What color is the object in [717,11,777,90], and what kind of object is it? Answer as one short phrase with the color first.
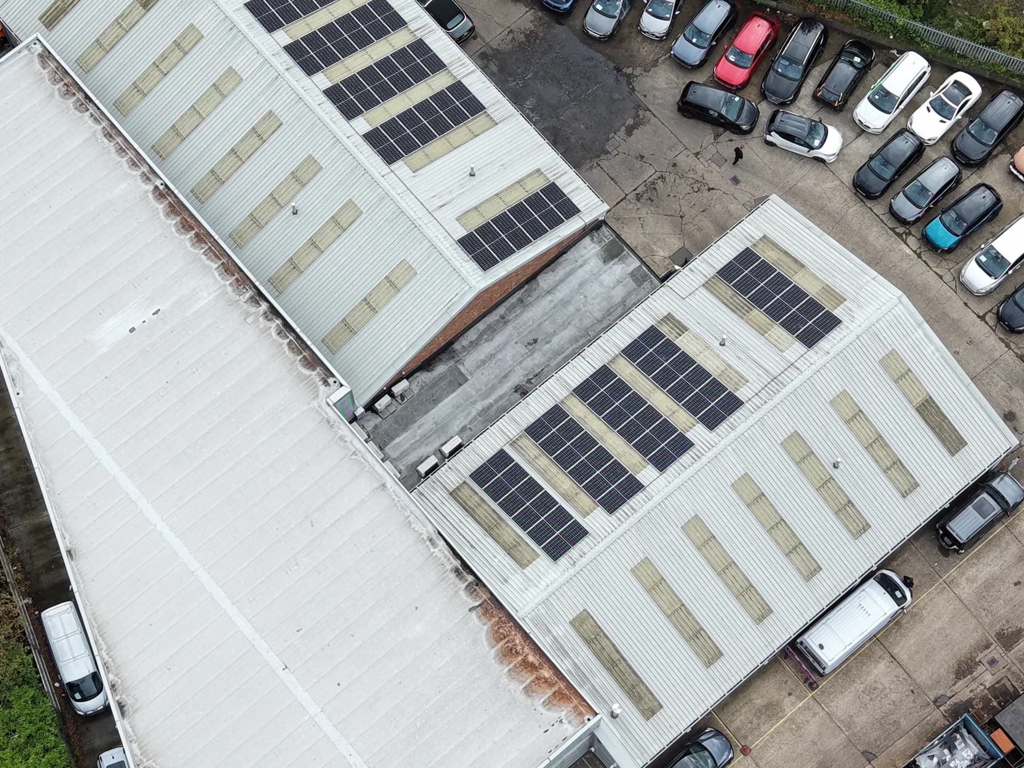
red car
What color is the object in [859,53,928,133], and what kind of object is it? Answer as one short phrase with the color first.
white car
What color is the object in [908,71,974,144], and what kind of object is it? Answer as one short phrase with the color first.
white car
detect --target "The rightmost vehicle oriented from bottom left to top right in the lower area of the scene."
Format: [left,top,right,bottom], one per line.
[939,472,1024,556]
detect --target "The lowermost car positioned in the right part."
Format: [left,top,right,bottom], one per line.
[664,730,734,768]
